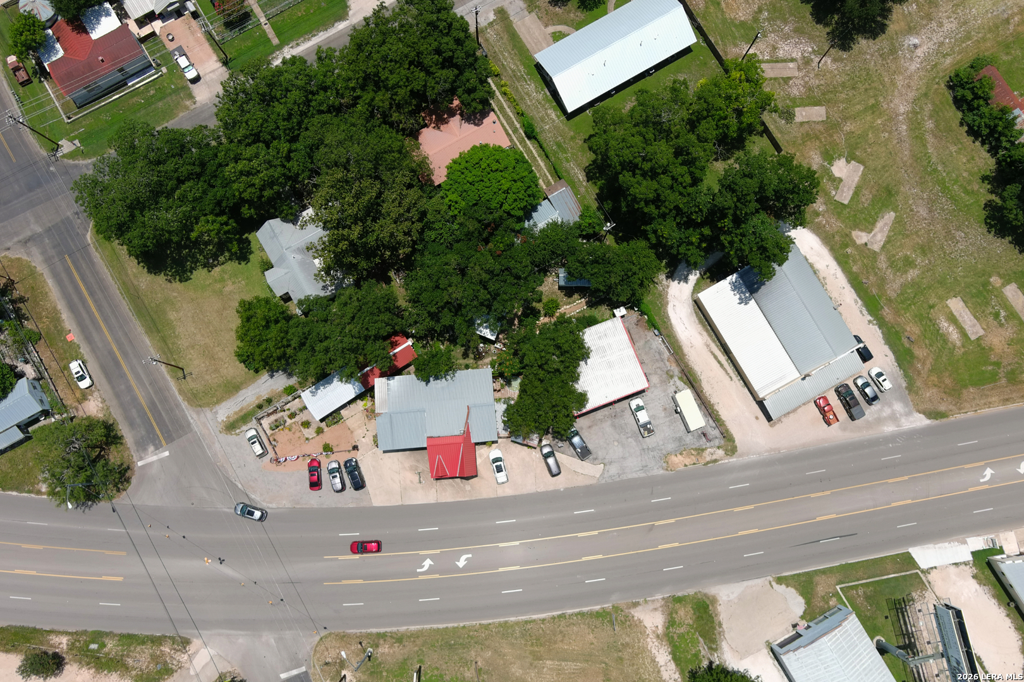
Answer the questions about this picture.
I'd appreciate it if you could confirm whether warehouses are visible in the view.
Yes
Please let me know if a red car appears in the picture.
Yes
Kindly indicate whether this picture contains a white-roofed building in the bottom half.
Yes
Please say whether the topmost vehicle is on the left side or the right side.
left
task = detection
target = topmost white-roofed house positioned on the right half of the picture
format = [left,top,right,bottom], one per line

[535,0,697,116]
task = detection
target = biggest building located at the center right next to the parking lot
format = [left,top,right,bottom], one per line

[693,243,871,421]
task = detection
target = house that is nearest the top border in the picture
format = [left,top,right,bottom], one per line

[121,0,179,32]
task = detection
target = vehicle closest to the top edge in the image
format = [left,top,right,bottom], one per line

[182,0,204,21]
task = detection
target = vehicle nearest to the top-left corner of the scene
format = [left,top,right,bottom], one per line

[6,53,32,87]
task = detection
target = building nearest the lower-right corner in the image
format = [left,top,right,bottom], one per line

[992,555,1024,624]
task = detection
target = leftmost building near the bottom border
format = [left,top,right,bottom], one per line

[769,602,897,682]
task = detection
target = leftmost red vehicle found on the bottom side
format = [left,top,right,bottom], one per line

[306,458,323,492]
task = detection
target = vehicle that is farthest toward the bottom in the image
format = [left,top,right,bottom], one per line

[350,539,383,556]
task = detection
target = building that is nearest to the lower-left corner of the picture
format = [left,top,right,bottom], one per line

[0,377,52,451]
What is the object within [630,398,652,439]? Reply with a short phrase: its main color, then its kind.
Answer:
white truck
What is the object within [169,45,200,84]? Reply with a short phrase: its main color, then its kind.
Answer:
white truck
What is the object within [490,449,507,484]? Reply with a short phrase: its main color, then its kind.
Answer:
white car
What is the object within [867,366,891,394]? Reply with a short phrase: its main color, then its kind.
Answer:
white car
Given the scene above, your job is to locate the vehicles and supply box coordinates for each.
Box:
[490,449,507,484]
[182,0,204,21]
[350,539,383,556]
[169,45,200,84]
[70,358,93,389]
[245,427,268,460]
[6,53,32,87]
[306,458,323,492]
[867,366,891,394]
[630,398,652,439]
[344,457,365,492]
[541,443,560,477]
[853,375,878,406]
[835,384,865,422]
[325,459,345,494]
[235,501,269,523]
[853,331,876,366]
[564,426,592,463]
[813,394,838,426]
